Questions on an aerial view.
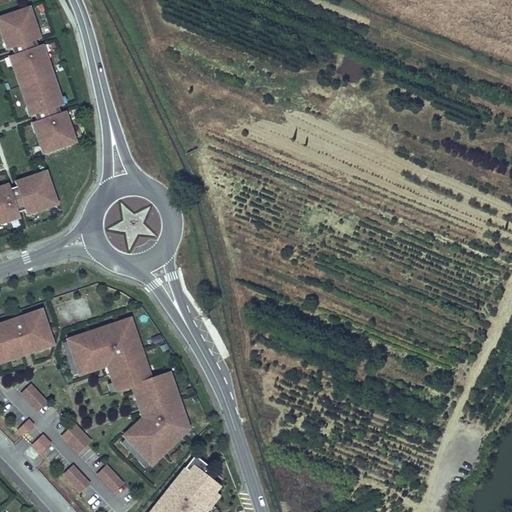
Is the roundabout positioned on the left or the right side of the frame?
left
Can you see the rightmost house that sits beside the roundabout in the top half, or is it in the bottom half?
bottom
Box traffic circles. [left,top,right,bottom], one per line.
[83,175,182,274]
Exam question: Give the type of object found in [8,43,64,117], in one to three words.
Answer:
house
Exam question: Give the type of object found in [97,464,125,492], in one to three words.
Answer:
building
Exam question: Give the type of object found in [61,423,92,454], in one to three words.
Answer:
building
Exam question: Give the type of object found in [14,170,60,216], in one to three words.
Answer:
house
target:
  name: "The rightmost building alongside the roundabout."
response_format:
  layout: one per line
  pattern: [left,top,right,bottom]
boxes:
[66,315,191,468]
